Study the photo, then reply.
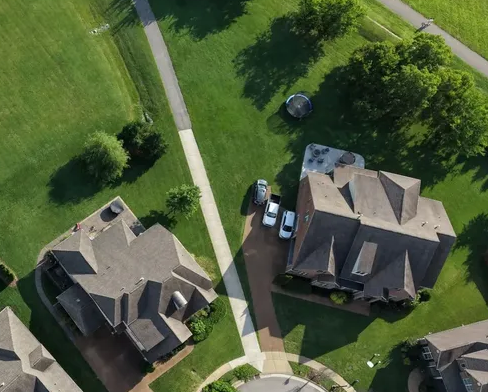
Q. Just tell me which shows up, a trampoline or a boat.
trampoline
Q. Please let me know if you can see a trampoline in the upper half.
Yes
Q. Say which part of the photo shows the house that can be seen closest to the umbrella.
right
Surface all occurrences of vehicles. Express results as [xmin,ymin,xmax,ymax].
[277,209,295,241]
[251,178,267,207]
[261,191,283,229]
